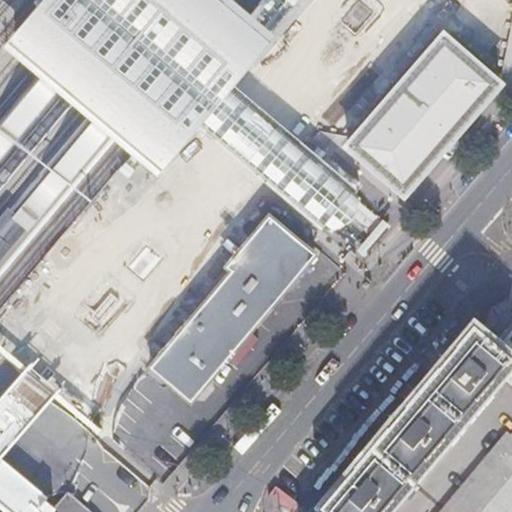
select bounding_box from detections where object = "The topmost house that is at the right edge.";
[342,30,505,200]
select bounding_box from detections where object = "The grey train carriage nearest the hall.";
[16,95,70,156]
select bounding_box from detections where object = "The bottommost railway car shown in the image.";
[0,150,24,188]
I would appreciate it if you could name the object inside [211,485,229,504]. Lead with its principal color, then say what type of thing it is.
gray car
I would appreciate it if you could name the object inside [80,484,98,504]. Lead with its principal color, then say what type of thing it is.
white car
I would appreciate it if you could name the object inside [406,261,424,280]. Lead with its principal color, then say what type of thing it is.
red car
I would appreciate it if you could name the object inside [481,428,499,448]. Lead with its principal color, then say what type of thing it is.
gray car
